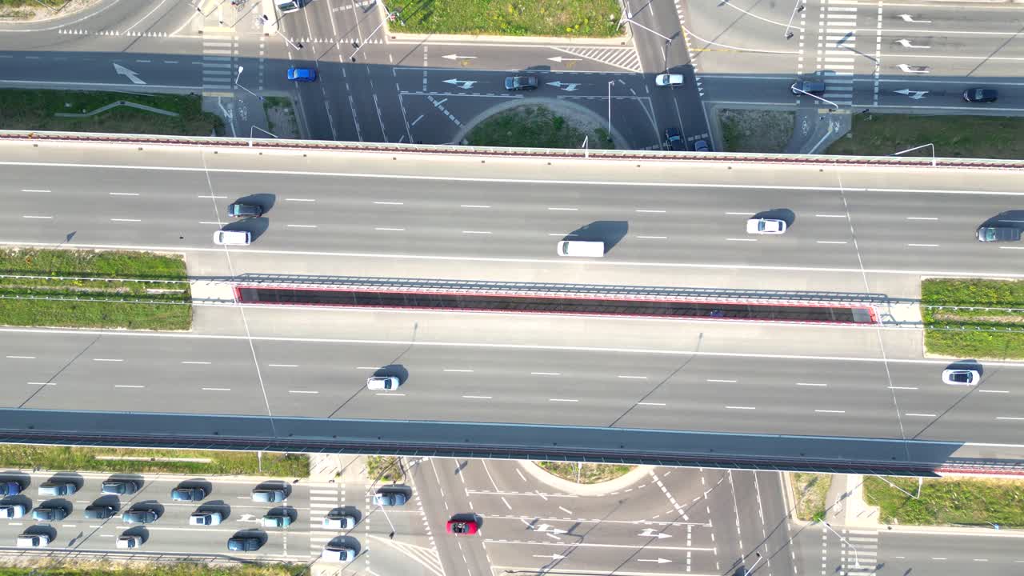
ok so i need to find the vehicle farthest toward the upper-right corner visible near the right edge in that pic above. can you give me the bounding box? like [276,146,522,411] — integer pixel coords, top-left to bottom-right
[961,87,998,103]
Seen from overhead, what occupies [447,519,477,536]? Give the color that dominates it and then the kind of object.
red car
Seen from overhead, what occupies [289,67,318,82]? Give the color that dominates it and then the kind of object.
blue car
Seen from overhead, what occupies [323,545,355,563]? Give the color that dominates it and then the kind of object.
white car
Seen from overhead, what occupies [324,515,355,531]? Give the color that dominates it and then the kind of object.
white car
